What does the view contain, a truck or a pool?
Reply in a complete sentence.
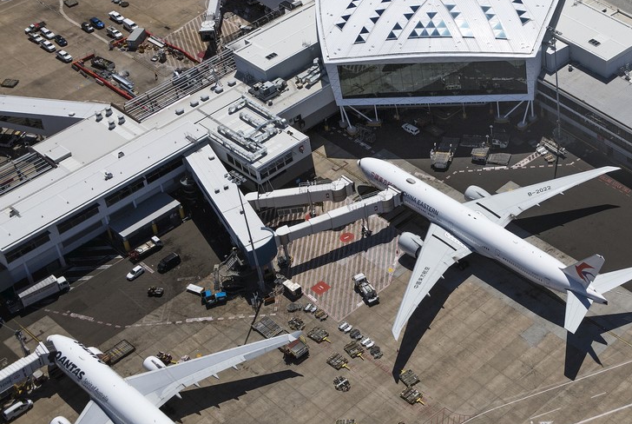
There is a truck in the scene.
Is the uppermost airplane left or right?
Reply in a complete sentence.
The uppermost airplane is on the right side of the image.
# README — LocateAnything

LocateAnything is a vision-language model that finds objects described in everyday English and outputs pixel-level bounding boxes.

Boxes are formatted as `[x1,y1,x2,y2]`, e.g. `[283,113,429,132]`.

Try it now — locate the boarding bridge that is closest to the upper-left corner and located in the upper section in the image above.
[0,94,108,148]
